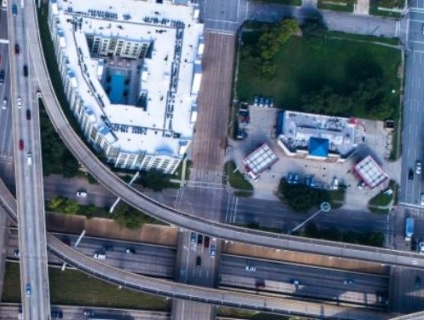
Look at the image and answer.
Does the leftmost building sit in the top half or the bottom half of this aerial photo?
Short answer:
top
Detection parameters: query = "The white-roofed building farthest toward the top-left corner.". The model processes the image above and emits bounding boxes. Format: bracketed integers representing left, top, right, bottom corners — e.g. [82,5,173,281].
[44,0,208,174]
